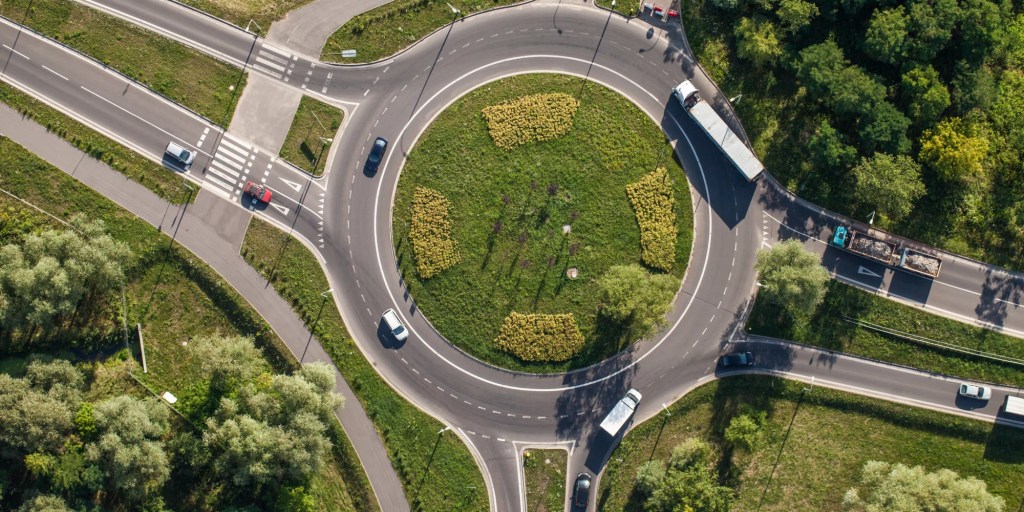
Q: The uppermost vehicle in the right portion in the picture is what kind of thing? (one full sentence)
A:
I'd identify the uppermost vehicle in the right portion as a truck.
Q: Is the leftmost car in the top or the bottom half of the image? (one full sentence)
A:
It is in the top half that the leftmost car appears.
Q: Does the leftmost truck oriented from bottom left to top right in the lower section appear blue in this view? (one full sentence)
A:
No, the color of the leftmost truck oriented from bottom left to top right in the lower section is white.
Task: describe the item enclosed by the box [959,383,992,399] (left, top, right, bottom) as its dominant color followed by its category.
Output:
white car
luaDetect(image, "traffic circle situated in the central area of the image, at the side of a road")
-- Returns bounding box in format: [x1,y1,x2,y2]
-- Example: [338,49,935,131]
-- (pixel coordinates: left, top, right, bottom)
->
[324,5,763,442]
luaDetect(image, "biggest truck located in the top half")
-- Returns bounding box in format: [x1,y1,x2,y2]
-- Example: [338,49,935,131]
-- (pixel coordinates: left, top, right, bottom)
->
[673,81,763,182]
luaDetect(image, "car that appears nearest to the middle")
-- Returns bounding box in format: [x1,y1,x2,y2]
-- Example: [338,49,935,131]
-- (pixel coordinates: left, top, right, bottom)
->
[383,309,408,340]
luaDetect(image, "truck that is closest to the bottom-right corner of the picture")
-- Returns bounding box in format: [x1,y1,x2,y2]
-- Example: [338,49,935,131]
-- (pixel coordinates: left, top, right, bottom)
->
[1002,395,1024,417]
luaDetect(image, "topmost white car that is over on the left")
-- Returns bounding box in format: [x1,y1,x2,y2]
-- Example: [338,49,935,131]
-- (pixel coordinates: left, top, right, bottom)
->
[166,141,194,164]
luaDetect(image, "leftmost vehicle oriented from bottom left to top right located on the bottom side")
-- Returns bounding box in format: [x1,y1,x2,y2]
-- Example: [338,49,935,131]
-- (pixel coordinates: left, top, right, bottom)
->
[600,386,645,436]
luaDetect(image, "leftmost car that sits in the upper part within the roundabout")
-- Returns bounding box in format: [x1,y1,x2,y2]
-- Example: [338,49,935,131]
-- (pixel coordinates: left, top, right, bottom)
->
[368,138,388,172]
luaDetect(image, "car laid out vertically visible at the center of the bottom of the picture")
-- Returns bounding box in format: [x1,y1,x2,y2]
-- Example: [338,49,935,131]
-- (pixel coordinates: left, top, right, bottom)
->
[576,472,591,507]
